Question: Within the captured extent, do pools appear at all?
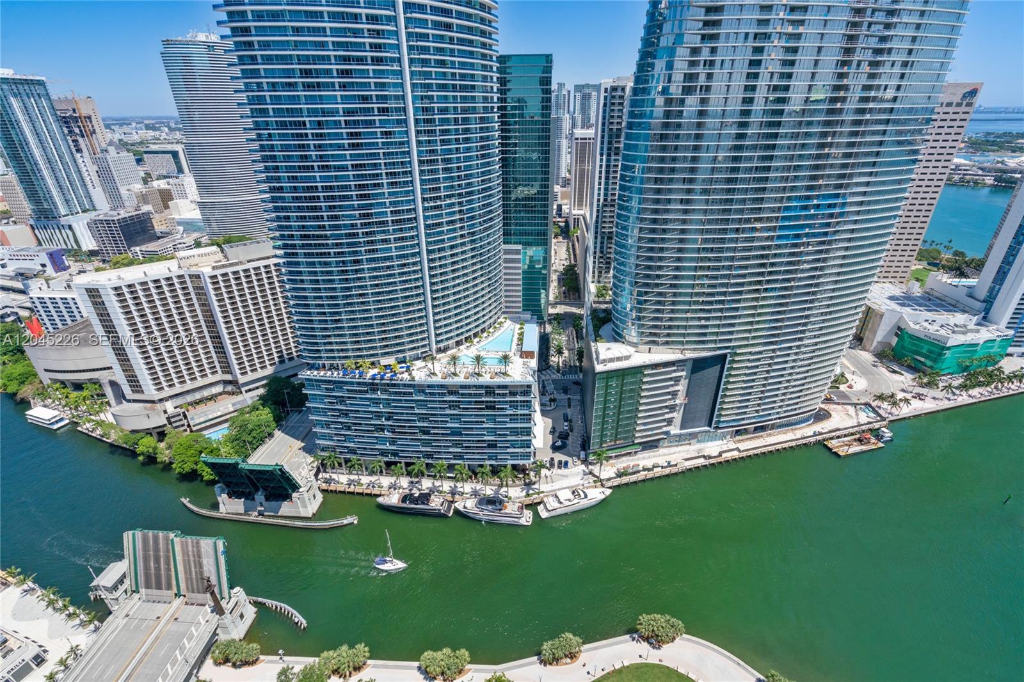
Yes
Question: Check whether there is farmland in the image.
No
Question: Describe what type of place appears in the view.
port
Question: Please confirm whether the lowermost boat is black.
No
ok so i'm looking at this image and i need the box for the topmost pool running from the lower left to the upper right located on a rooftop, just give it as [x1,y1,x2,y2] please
[476,324,515,349]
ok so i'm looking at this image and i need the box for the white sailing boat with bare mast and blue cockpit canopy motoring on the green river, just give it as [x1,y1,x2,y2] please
[374,536,406,569]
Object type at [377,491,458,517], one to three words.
boat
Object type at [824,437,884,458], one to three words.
ship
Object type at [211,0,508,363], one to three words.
building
